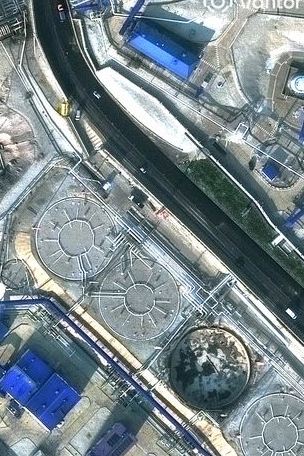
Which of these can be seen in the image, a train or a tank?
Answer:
tank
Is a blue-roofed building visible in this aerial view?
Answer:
Yes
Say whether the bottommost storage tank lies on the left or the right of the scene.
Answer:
right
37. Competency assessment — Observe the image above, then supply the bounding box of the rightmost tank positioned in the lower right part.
[240,393,304,456]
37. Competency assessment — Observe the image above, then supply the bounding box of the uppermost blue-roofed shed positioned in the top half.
[127,25,200,81]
